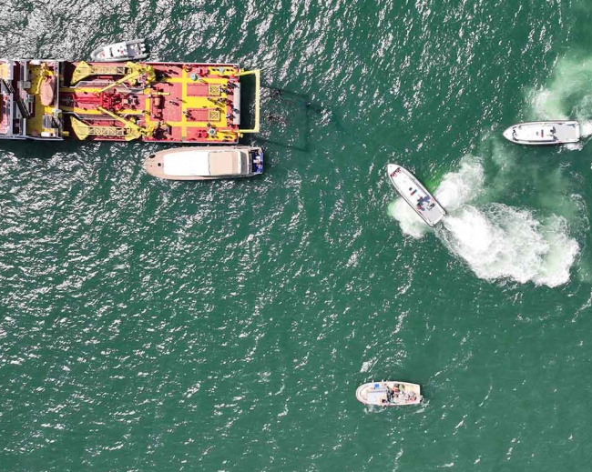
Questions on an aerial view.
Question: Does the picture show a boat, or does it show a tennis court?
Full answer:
Visible in the photo is a boat.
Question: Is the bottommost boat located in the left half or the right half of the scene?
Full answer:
The bottommost boat appears in the right half of the scene.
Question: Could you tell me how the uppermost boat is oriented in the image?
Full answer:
In this picture, the uppermost boat lies from left to right.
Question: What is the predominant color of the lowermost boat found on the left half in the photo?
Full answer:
The color of the lowermost boat found on the left half is white.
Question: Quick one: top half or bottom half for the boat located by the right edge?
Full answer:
The boat located by the right edge sits in the top half of the picture.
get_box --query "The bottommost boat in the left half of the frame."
[142,145,264,180]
